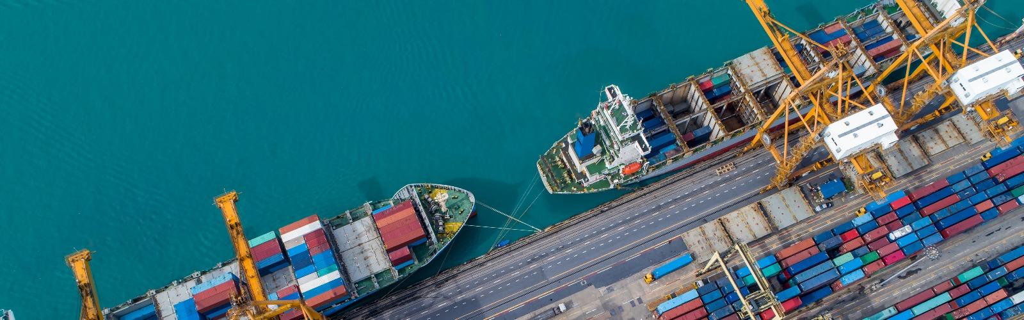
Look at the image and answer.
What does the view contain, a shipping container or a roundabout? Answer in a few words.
shipping container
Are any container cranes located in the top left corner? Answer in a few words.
No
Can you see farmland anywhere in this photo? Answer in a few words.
No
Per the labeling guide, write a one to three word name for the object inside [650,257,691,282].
shipping container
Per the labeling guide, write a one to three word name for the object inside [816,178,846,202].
shed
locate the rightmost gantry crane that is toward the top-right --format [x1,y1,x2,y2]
[850,0,1024,148]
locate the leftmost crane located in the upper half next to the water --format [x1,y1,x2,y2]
[739,0,910,202]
